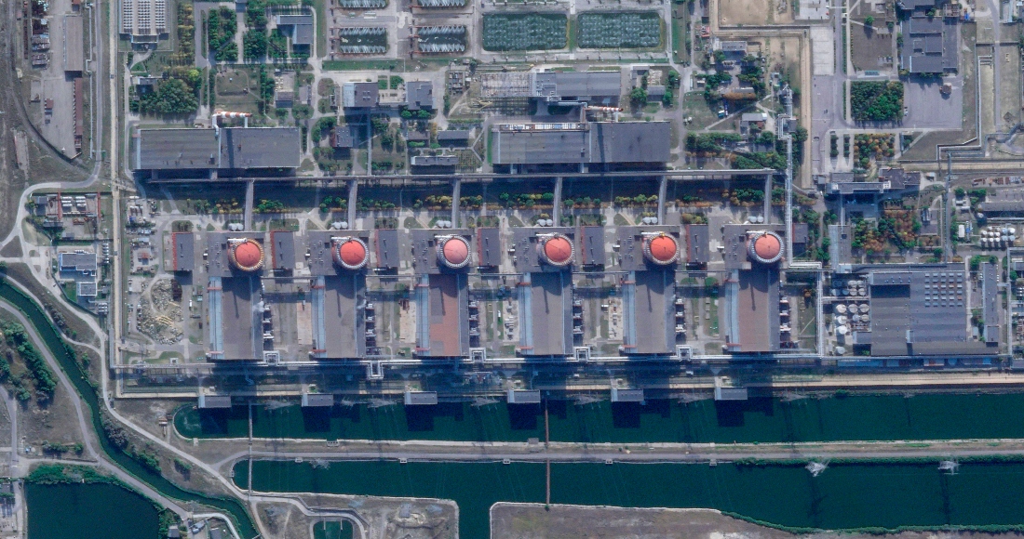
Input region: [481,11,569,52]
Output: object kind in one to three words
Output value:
pond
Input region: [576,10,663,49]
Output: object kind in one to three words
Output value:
pond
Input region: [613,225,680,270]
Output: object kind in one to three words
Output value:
building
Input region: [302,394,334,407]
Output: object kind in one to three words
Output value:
building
